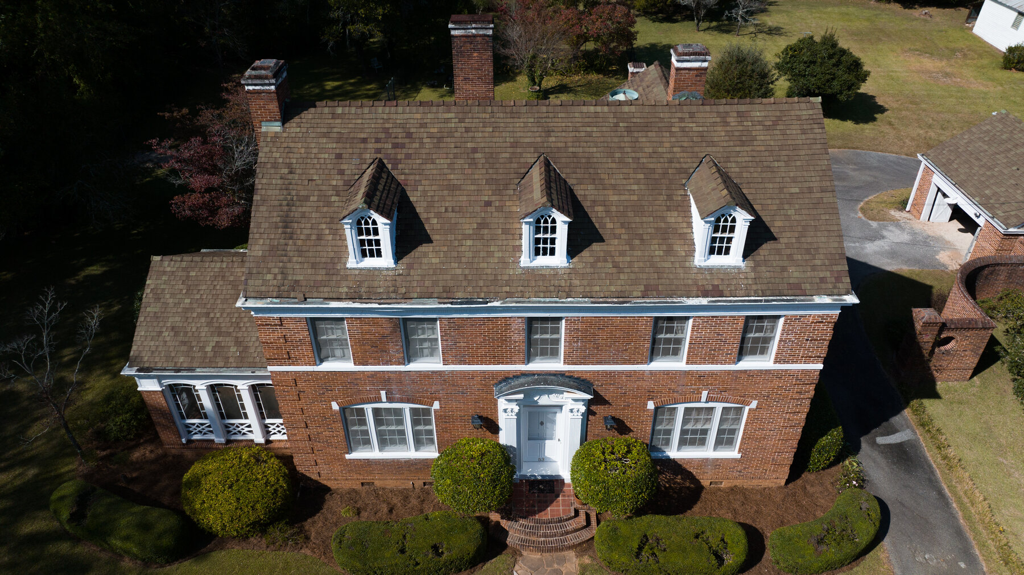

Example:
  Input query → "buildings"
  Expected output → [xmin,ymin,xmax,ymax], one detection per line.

[117,8,859,489]
[948,0,1024,53]
[905,109,1024,264]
